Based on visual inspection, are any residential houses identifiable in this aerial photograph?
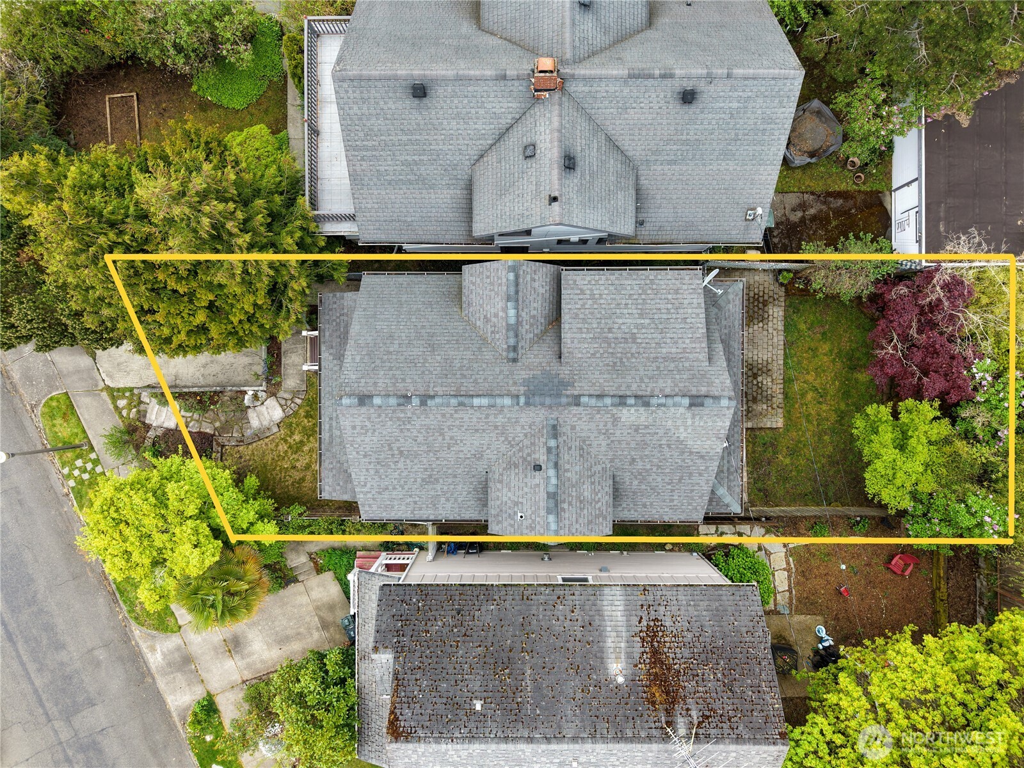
Yes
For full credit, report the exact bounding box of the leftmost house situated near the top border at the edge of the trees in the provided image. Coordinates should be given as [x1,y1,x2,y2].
[305,0,807,256]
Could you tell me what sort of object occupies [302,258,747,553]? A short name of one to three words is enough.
house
